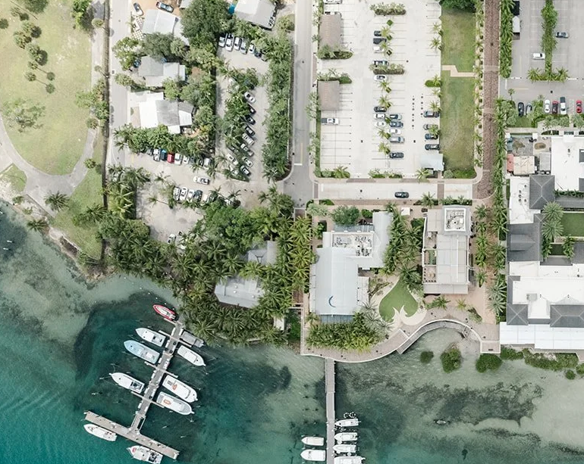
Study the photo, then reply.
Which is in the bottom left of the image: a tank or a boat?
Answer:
boat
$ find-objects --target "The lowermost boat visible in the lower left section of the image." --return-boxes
[129,447,168,464]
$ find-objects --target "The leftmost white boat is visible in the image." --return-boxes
[83,424,120,443]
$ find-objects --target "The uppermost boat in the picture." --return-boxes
[152,304,179,322]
